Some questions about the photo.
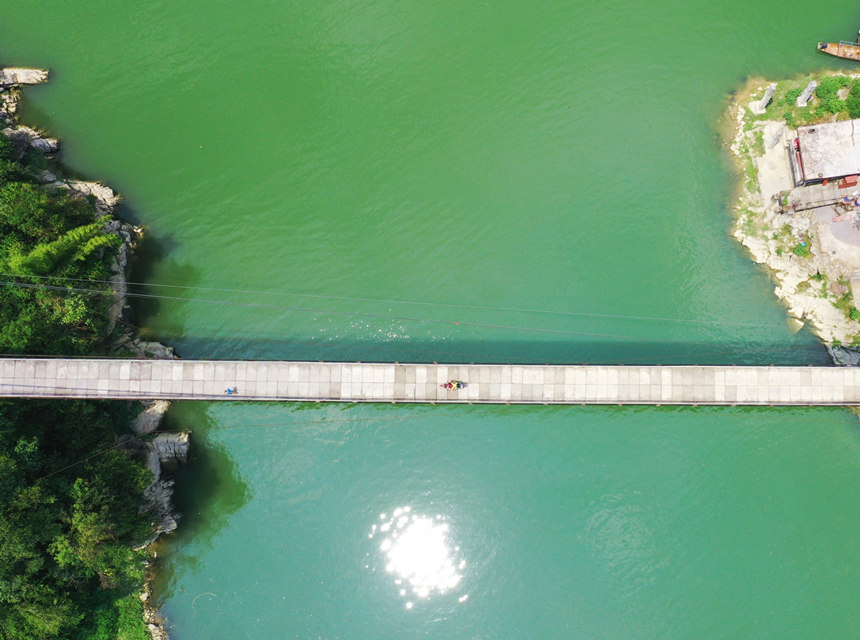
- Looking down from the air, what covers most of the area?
water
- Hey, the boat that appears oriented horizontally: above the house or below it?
above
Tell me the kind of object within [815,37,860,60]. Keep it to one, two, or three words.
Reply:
boat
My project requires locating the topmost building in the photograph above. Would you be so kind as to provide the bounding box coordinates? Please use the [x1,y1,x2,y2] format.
[786,119,860,189]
